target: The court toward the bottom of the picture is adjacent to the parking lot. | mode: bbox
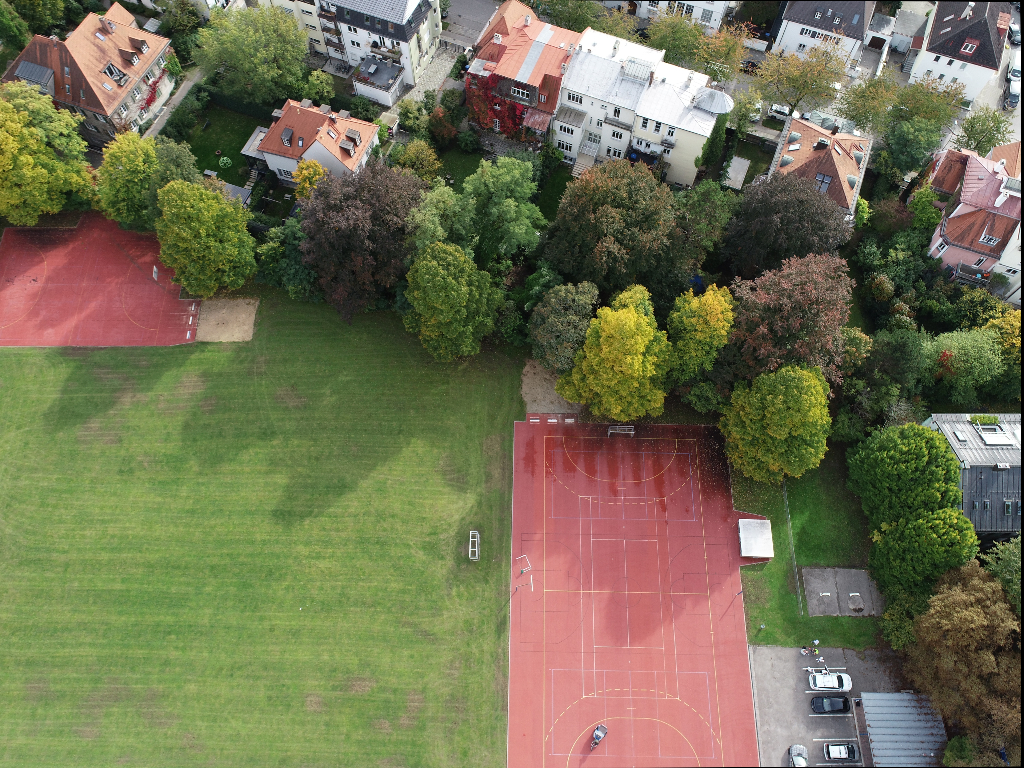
[507,413,772,768]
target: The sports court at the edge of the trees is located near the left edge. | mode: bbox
[0,213,202,346]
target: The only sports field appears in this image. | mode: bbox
[0,205,548,768]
